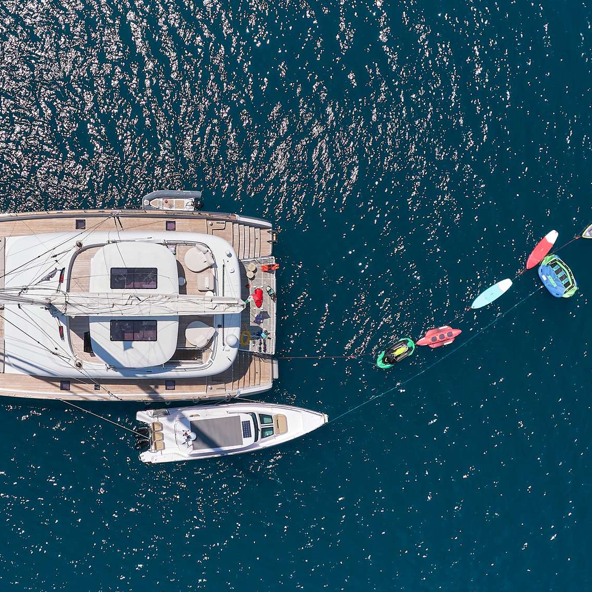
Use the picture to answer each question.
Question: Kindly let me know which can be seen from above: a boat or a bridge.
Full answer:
There is a boat in the scene.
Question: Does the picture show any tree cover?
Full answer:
No, the picture contains no tree cover.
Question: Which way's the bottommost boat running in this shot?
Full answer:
The bottommost boat has been laid out horizontally relative to the frame.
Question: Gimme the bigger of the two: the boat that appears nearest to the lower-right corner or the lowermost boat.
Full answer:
Of the two, the lowermost boat is bigger, while the boat that appears nearest to the lower-right corner is smaller.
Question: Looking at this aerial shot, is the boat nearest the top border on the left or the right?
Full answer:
The boat nearest the top border sits on the left side.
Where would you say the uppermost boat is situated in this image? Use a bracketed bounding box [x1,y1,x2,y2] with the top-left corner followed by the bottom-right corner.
[142,190,203,211]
